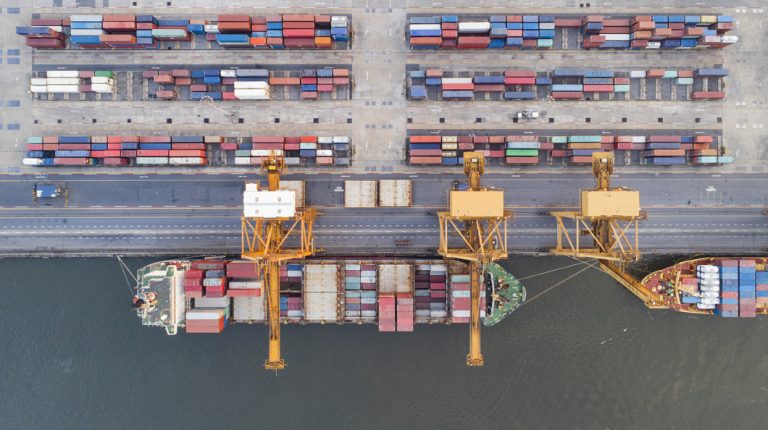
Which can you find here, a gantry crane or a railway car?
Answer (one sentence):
It is a gantry crane that can be seen here.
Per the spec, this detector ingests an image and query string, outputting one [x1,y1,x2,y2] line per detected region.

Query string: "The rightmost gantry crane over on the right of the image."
[537,151,667,308]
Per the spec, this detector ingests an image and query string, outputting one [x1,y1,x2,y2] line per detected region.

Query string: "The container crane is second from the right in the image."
[429,151,511,366]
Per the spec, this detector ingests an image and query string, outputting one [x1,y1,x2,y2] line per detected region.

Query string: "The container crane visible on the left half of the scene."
[242,147,322,369]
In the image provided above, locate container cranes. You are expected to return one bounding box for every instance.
[242,147,322,369]
[537,151,667,308]
[429,151,511,366]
